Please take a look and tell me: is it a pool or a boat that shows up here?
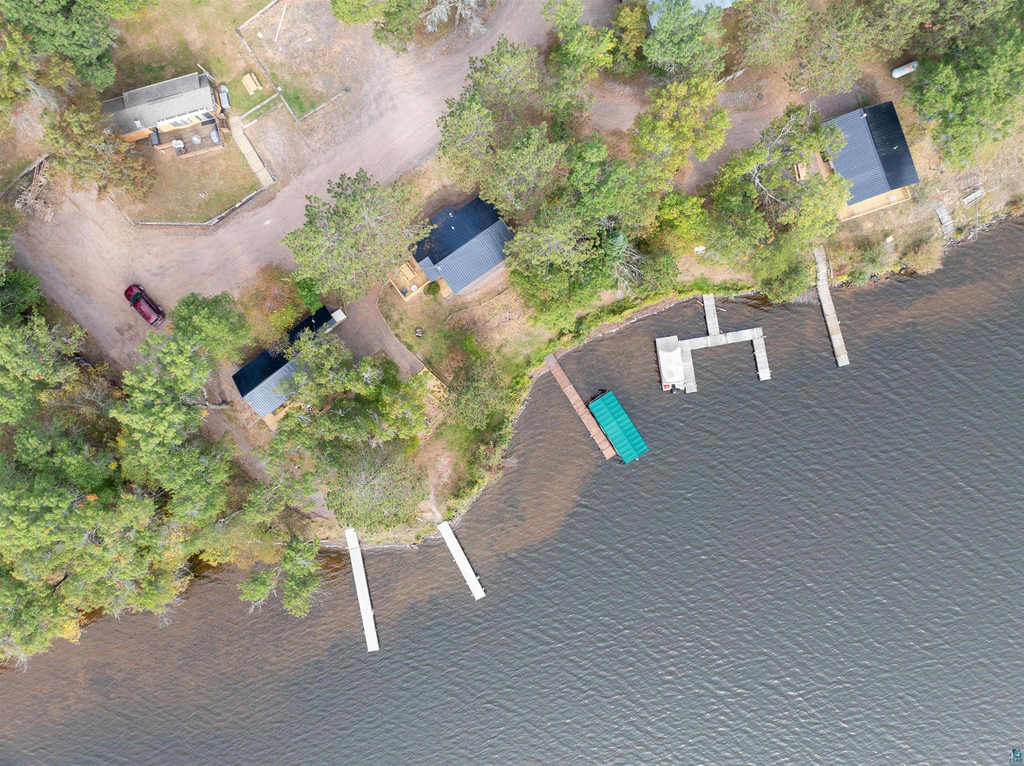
boat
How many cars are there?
one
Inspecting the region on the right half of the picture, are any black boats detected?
No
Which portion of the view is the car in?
left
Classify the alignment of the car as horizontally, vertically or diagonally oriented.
diagonally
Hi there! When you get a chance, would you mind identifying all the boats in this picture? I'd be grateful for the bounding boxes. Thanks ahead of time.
[655,335,684,393]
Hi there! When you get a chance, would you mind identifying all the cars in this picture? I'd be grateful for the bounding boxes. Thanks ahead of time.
[127,281,168,328]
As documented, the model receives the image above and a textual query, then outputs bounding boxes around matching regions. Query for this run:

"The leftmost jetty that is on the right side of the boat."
[679,294,772,394]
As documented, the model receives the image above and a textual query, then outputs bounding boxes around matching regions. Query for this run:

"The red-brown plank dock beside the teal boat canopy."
[545,354,617,460]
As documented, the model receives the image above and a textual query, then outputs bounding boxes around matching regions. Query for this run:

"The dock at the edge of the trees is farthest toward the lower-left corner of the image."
[346,537,381,654]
